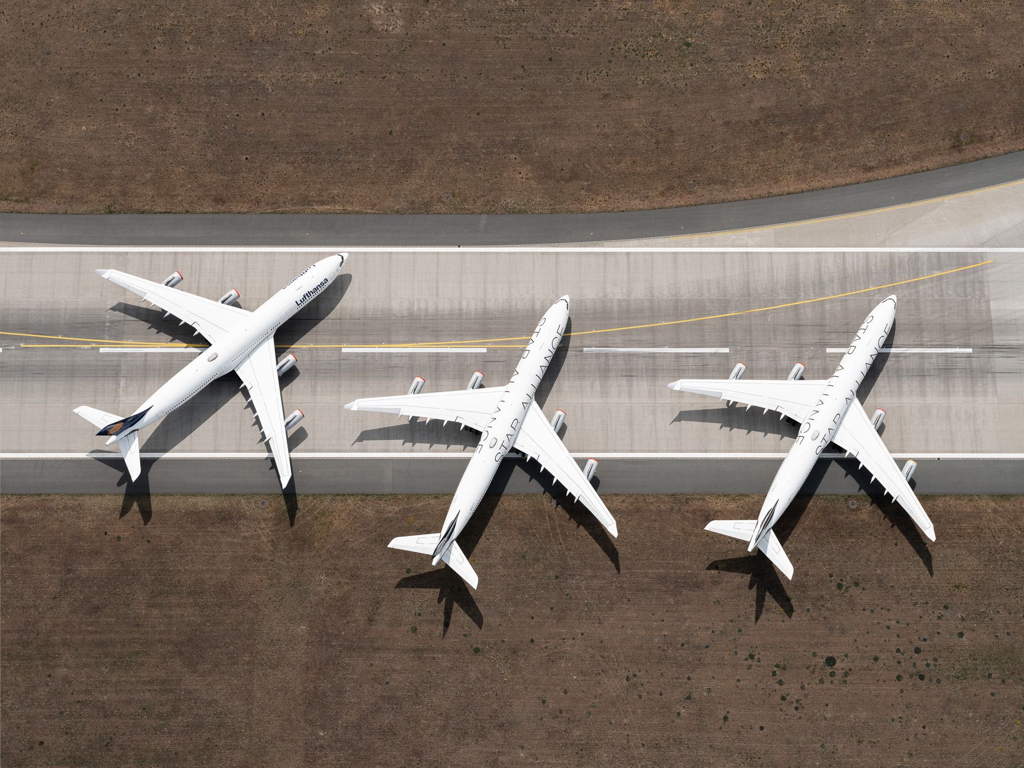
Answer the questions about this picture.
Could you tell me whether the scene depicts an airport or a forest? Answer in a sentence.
What you see here is an airport.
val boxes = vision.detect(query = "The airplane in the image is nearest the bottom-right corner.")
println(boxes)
[667,294,935,579]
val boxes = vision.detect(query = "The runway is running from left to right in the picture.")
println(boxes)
[0,247,1024,459]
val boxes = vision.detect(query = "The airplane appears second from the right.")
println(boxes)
[342,294,617,589]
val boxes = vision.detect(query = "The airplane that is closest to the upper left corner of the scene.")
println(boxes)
[73,251,349,489]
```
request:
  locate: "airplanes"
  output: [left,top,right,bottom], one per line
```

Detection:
[73,251,349,489]
[342,294,617,589]
[667,294,935,579]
